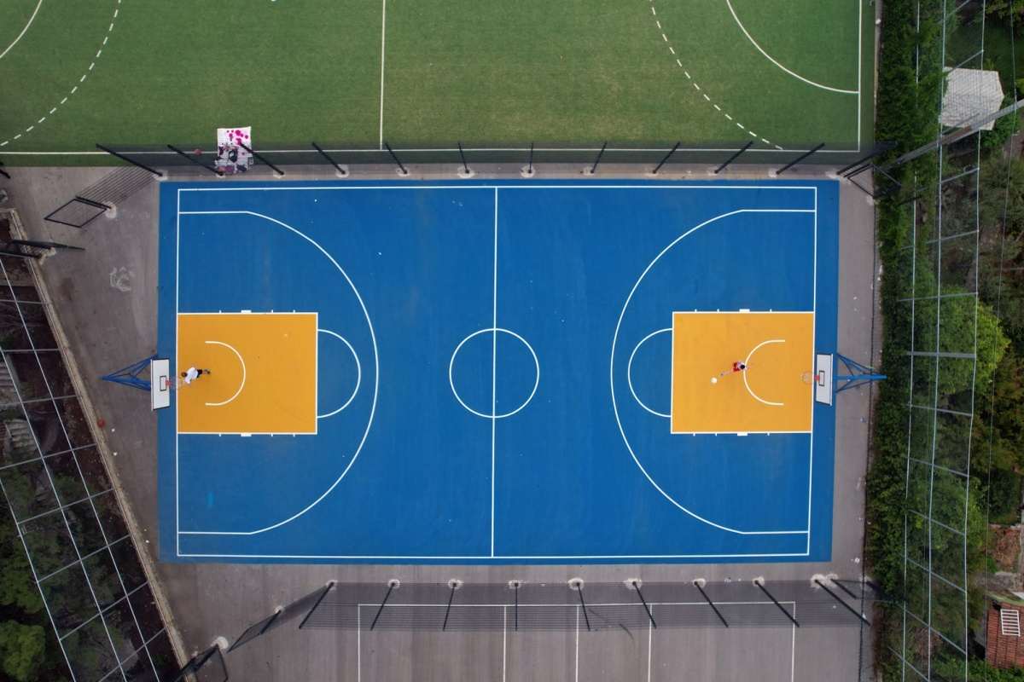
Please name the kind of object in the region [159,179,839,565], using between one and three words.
basketball court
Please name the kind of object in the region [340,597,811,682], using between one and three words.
sports court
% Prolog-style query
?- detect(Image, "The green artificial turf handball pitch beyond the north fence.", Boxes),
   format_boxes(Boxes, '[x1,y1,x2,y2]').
[0,0,876,165]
